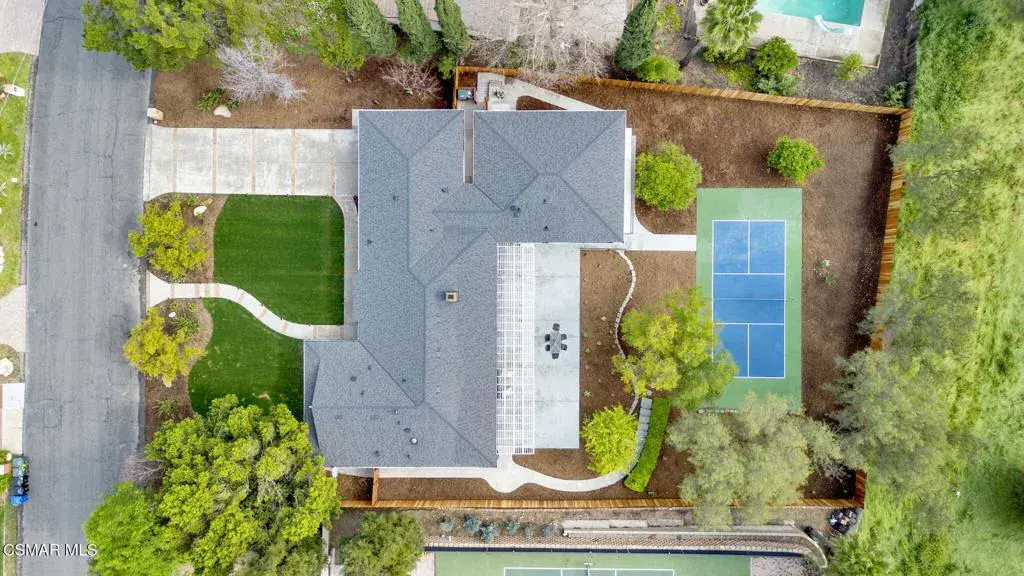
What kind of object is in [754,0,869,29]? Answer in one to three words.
swimming pool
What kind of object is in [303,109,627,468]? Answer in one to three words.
house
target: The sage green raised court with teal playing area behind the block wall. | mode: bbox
[434,549,750,576]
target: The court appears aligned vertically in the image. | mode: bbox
[697,188,802,411]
